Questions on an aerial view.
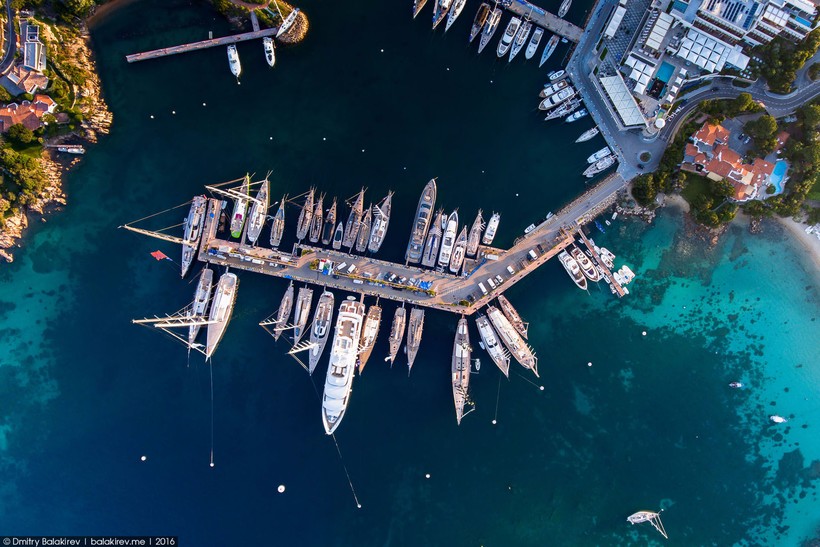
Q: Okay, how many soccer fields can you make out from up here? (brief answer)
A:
none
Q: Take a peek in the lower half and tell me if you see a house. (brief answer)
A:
No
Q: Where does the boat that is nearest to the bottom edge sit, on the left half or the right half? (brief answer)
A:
right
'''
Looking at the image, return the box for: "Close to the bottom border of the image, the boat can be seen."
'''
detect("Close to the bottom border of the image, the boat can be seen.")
[627,511,669,538]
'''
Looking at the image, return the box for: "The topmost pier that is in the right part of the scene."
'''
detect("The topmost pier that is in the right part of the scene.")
[485,0,583,43]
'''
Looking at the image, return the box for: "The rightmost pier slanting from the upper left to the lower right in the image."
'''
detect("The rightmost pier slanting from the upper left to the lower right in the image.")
[577,228,628,299]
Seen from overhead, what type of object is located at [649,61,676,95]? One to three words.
swimming pool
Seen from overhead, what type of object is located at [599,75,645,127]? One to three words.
building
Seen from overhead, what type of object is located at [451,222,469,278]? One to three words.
boat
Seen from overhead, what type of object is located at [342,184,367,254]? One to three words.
boat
